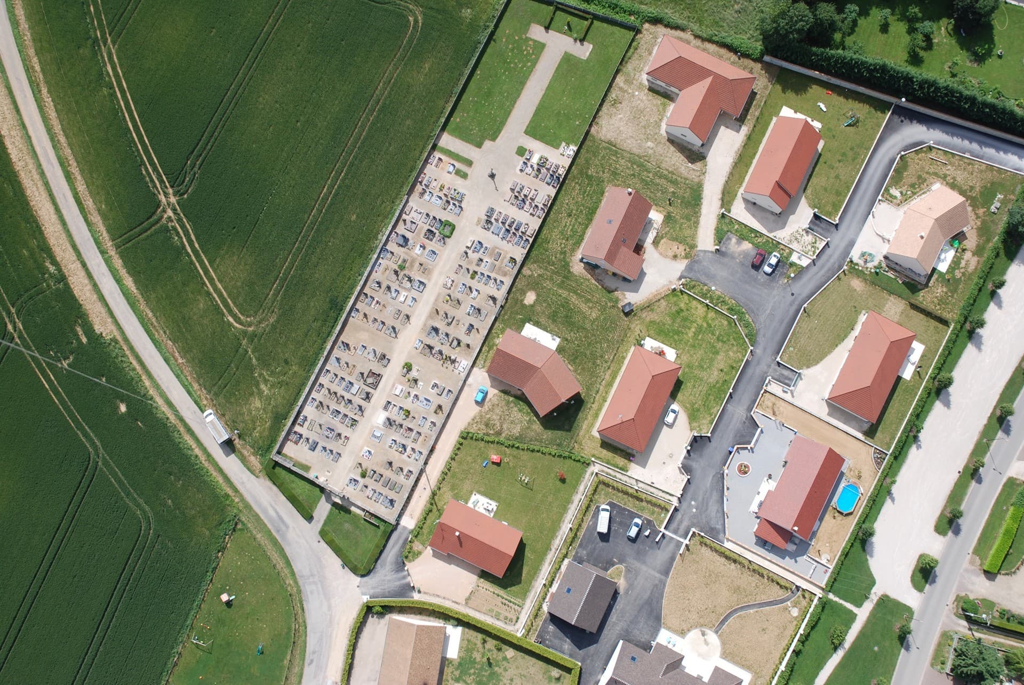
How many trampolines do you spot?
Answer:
zero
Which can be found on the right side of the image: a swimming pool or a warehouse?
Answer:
swimming pool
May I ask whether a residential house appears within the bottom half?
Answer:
Yes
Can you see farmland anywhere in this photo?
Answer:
Yes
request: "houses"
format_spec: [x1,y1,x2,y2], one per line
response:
[645,35,757,148]
[883,185,970,274]
[743,116,823,214]
[378,616,447,685]
[753,435,846,550]
[597,346,683,454]
[547,561,617,634]
[582,186,654,279]
[601,640,744,685]
[430,498,523,579]
[824,310,919,427]
[487,329,581,416]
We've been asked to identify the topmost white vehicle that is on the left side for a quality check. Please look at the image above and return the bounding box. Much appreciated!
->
[204,409,230,445]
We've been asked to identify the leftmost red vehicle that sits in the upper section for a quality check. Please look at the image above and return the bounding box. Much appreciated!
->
[751,250,764,269]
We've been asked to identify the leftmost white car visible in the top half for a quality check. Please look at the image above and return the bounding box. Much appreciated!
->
[763,251,780,274]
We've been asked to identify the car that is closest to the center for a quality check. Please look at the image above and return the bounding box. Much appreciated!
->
[474,385,487,405]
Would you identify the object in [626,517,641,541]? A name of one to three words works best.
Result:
car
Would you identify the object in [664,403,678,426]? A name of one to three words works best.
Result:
car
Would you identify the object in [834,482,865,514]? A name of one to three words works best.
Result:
swimming pool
